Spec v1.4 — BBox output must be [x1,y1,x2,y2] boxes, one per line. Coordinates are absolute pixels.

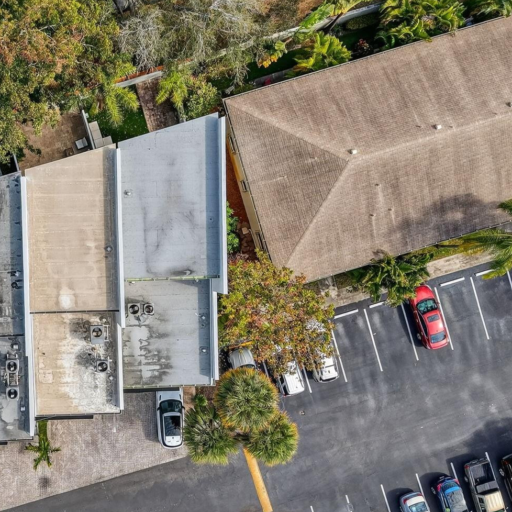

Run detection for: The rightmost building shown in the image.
[221,13,512,292]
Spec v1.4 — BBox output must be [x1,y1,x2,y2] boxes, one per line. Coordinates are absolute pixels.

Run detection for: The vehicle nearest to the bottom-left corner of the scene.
[152,394,184,449]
